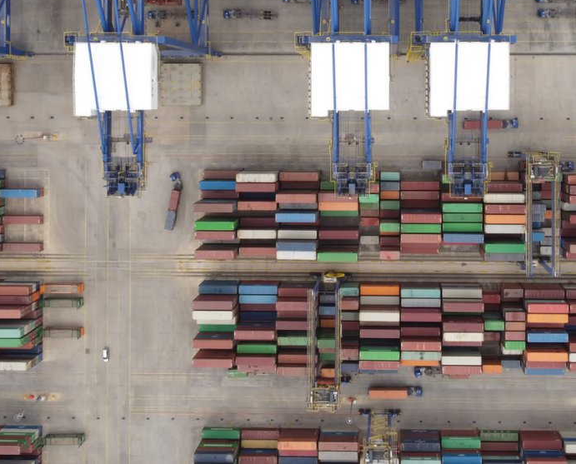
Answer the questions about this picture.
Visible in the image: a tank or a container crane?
container crane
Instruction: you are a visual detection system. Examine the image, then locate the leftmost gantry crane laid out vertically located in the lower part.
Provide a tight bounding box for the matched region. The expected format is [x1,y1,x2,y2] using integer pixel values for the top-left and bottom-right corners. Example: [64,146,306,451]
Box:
[306,267,354,411]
